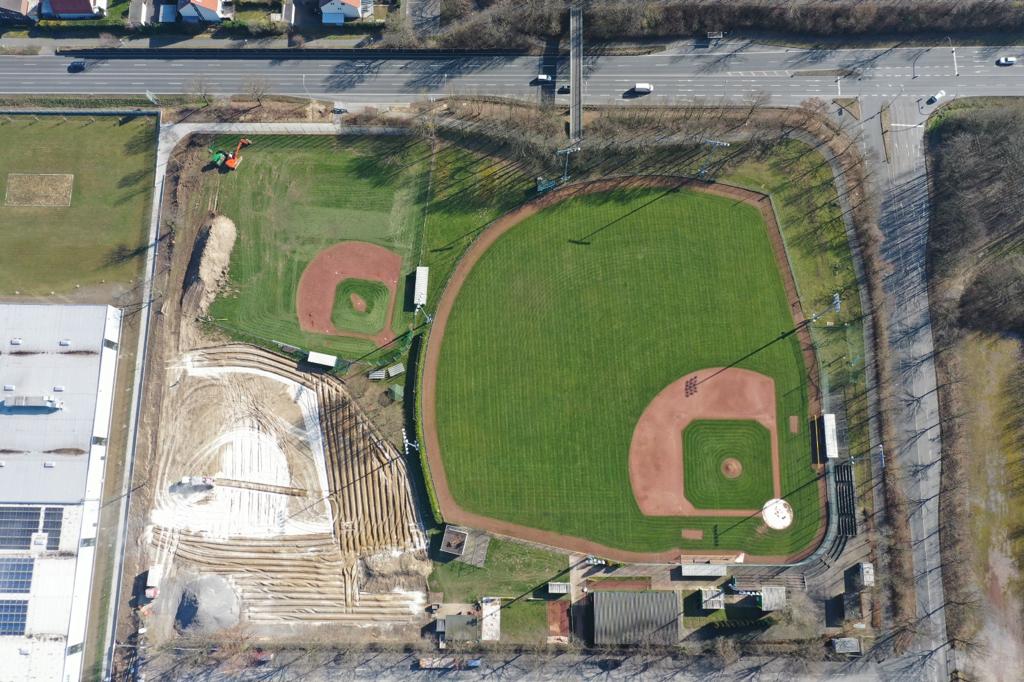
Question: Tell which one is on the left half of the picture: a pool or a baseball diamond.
baseball diamond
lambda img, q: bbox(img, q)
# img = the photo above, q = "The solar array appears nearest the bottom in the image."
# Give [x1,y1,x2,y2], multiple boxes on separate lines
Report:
[0,601,30,635]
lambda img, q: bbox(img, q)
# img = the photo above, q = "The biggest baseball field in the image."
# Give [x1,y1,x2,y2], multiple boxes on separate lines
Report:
[422,175,828,565]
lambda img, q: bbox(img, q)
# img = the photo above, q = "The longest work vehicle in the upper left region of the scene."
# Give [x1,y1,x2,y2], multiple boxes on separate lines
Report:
[224,140,252,173]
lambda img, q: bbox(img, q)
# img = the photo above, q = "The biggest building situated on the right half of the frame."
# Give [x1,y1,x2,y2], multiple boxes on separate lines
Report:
[592,591,680,644]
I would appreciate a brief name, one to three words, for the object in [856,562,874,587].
building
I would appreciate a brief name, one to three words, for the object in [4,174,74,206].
sports field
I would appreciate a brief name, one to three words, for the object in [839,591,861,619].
shed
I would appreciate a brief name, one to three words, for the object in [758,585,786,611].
shed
